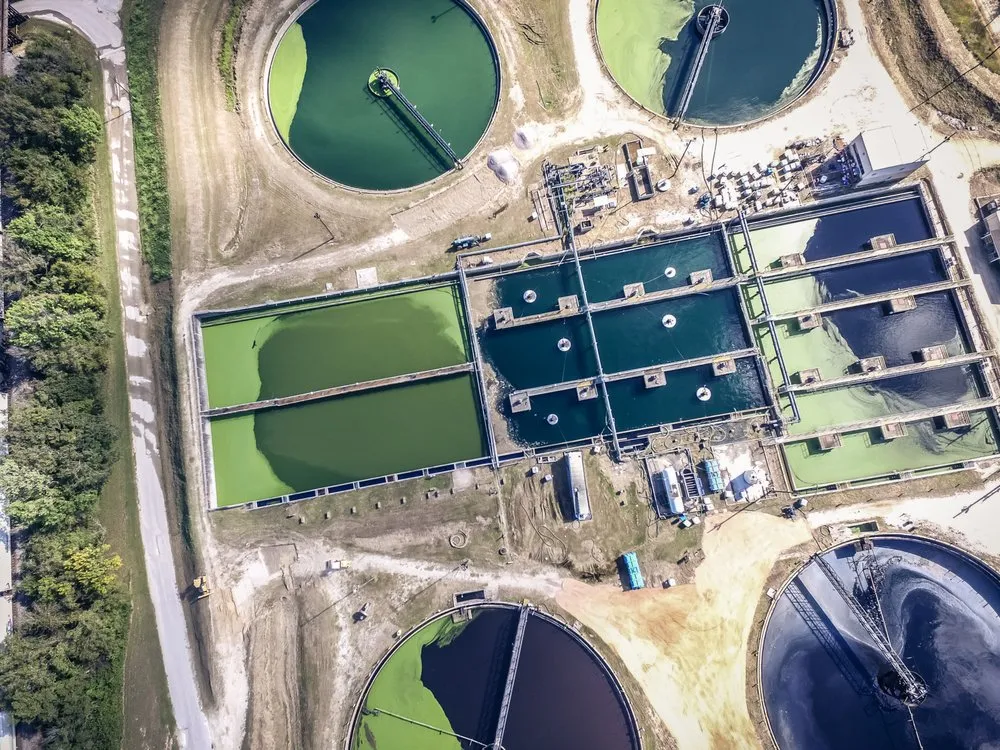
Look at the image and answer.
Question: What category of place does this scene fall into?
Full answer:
This image shows an industrial area.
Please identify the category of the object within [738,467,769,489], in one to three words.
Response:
silo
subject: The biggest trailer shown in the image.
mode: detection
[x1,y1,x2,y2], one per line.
[567,451,593,520]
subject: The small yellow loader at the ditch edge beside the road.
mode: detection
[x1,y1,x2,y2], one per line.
[192,578,211,600]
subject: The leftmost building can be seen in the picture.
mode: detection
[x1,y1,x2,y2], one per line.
[847,122,930,184]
